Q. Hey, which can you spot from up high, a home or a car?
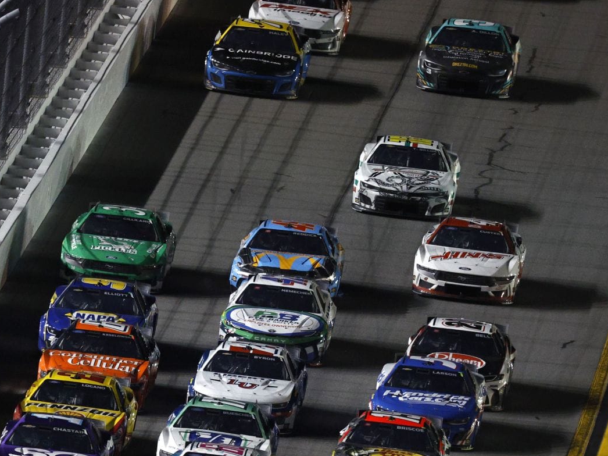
car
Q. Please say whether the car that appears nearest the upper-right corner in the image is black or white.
black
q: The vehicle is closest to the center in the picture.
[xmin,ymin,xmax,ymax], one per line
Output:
[229,218,344,305]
